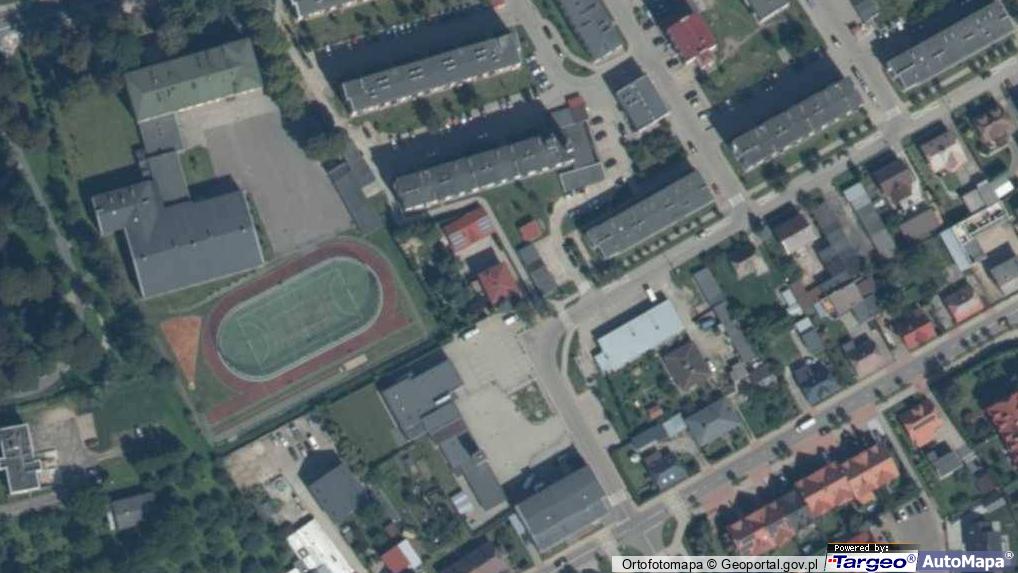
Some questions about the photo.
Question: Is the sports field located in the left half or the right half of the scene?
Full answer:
The sports field appears in the left half of the scene.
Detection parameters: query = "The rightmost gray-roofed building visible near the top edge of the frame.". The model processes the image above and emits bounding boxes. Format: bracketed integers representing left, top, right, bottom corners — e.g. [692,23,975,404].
[885,0,1016,92]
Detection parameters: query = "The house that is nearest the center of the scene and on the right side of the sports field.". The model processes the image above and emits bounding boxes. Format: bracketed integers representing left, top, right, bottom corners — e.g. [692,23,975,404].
[478,262,522,304]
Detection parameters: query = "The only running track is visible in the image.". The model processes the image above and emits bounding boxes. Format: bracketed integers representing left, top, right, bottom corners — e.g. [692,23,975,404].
[200,240,424,424]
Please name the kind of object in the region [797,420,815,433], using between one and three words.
vehicle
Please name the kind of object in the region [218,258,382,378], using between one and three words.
sports field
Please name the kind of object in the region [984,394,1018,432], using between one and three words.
house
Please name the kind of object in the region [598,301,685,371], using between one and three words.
building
